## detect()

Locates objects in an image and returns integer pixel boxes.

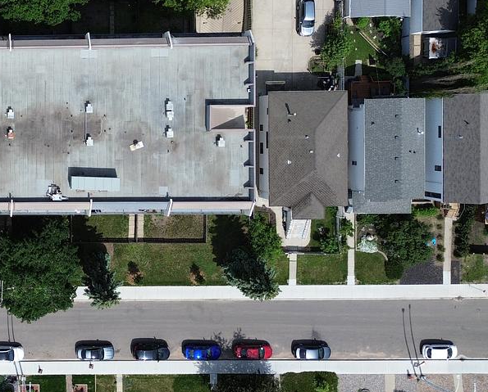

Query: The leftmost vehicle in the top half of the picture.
[298,0,320,35]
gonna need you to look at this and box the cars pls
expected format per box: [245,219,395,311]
[298,0,320,35]
[133,345,171,364]
[184,345,222,363]
[0,346,24,364]
[235,345,273,363]
[293,345,332,363]
[78,345,115,364]
[422,345,459,363]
